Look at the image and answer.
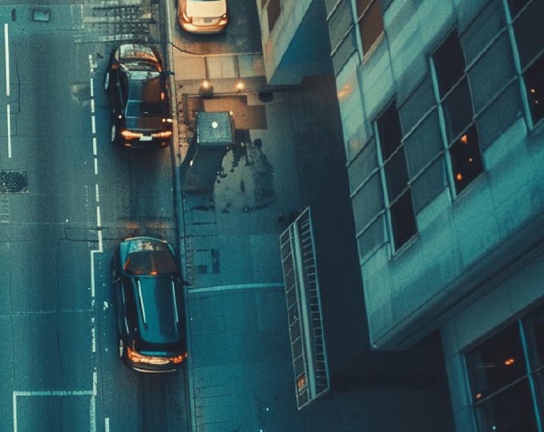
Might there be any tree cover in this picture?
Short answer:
No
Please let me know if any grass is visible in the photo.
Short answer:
No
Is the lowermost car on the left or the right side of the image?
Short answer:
left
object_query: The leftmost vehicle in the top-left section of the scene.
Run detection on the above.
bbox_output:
[102,41,175,149]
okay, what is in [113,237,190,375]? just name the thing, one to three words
car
